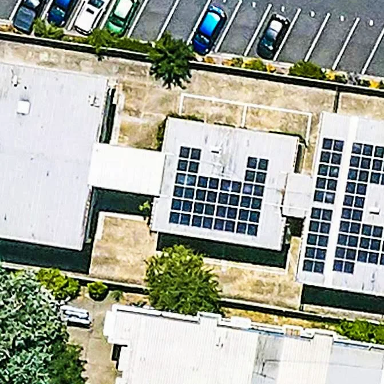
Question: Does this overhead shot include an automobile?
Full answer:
Yes, the image includes an automobile.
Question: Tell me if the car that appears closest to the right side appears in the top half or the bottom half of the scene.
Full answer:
It is in the top half that the car that appears closest to the right side appears.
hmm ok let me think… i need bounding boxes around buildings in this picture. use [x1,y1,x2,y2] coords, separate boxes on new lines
[296,111,384,297]
[0,61,124,251]
[104,305,384,384]
[150,116,304,252]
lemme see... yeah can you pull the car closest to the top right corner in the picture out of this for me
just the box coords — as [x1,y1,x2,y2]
[258,13,291,60]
